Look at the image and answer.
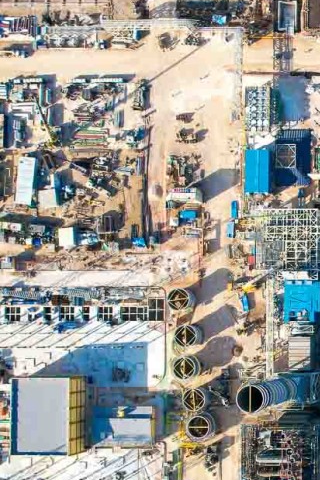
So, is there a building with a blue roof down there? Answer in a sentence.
Yes, you can see a building with a blue roof in this photo.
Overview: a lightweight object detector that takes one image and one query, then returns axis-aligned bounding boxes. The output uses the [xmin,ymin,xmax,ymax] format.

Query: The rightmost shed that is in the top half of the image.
[272,129,313,188]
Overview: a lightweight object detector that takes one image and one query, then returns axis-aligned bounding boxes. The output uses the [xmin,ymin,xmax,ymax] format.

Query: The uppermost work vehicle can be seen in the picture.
[134,65,146,89]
